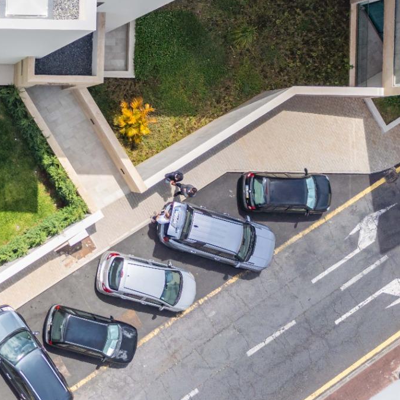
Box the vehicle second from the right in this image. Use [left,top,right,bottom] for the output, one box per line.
[161,202,271,274]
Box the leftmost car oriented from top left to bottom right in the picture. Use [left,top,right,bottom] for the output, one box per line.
[0,302,79,400]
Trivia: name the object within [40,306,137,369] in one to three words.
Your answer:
car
